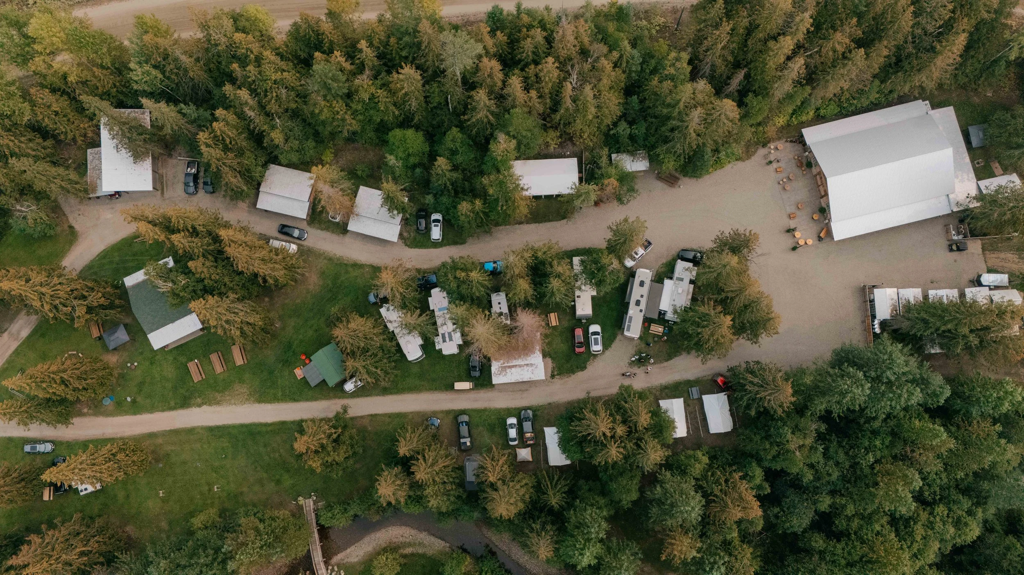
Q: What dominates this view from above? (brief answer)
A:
trees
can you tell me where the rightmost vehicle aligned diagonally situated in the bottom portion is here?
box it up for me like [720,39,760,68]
[709,368,734,394]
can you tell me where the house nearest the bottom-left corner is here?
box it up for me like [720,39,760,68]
[124,257,208,351]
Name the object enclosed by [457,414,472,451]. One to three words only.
vehicle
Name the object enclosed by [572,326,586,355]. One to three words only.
car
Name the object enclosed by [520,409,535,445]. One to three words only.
vehicle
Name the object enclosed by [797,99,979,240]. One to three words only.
building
